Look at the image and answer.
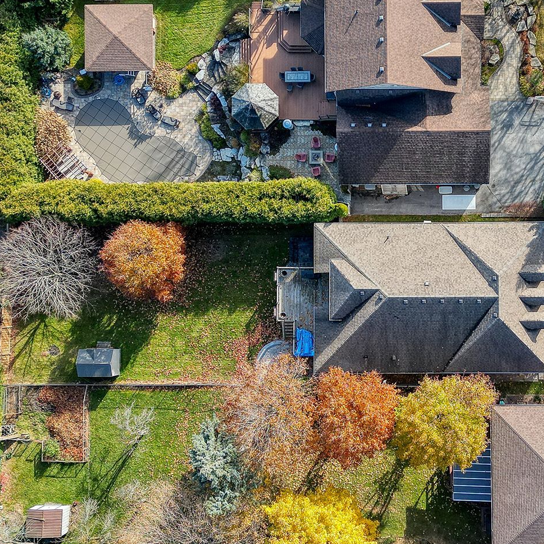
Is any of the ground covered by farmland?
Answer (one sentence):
No, the picture contains no farmland.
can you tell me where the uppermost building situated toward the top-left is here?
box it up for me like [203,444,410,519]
[83,3,164,78]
